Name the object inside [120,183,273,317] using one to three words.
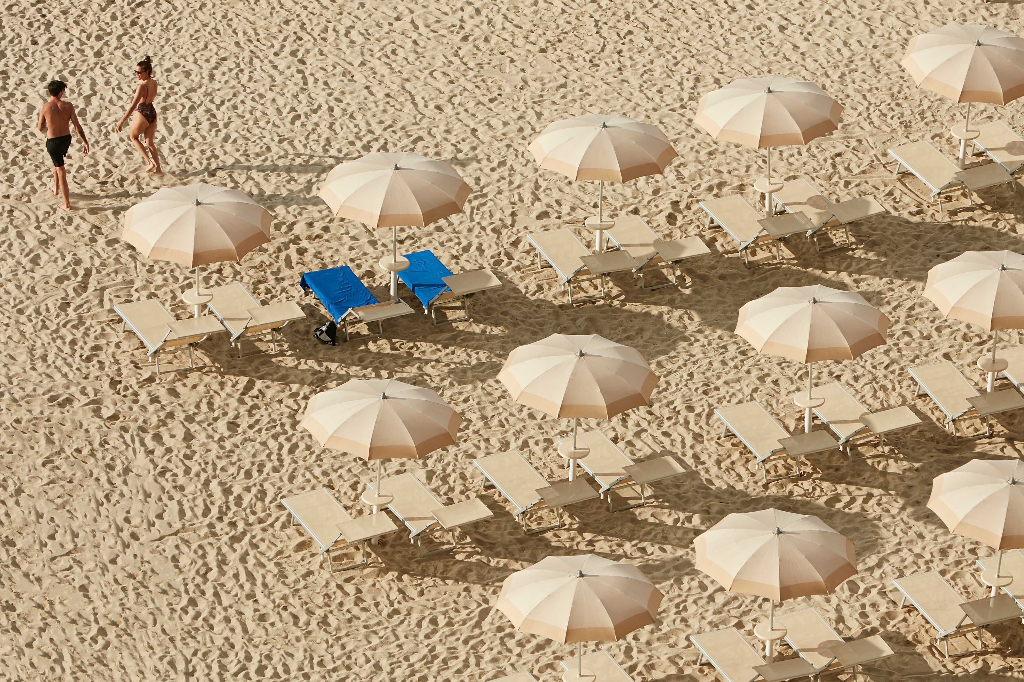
umbrella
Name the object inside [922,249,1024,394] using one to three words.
umbrella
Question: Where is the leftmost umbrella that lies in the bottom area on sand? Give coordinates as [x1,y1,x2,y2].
[300,379,464,516]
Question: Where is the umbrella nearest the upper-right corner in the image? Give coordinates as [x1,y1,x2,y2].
[899,24,1024,170]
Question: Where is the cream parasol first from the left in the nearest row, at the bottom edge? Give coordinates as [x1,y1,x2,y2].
[494,554,664,682]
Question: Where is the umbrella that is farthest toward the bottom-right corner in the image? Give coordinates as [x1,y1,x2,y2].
[926,460,1024,597]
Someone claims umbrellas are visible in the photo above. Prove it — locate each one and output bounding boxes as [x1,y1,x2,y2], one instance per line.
[494,554,664,682]
[497,334,660,481]
[527,113,680,253]
[926,460,1024,597]
[694,76,843,218]
[922,249,1024,394]
[899,24,1024,170]
[317,152,473,304]
[120,183,273,317]
[734,285,891,434]
[300,379,464,516]
[695,509,858,663]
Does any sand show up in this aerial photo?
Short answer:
Yes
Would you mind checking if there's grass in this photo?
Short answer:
No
